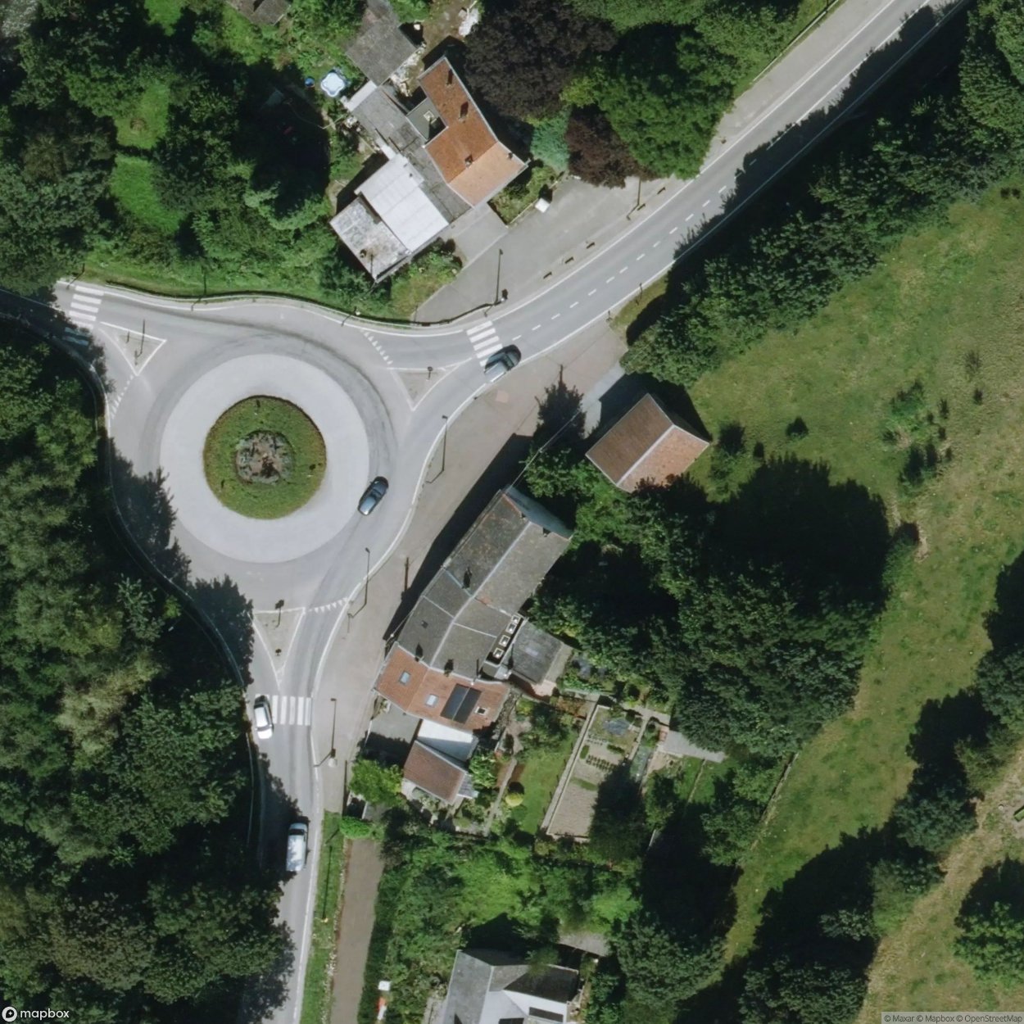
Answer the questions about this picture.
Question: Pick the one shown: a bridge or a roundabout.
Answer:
roundabout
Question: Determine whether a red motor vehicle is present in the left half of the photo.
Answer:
No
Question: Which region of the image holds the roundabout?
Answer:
left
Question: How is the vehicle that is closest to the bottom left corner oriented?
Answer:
up and down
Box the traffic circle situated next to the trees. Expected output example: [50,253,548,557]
[163,355,367,561]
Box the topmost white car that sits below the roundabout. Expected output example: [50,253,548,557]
[254,698,275,737]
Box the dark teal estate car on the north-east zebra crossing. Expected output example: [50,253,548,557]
[482,344,524,378]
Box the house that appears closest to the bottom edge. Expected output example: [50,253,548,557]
[444,946,583,1024]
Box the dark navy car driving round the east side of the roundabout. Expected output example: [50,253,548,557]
[358,476,389,516]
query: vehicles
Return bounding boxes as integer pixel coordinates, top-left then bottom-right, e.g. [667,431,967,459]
[358,476,389,516]
[482,344,524,378]
[287,825,308,872]
[254,698,275,737]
